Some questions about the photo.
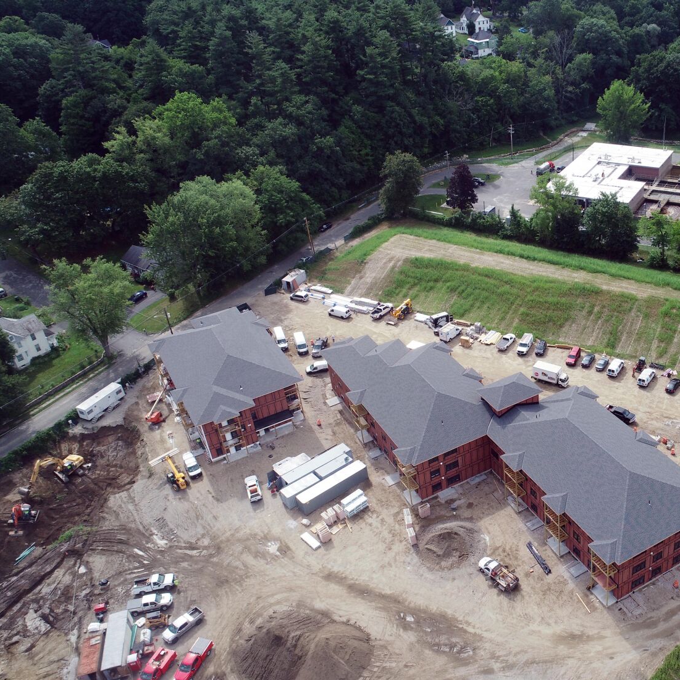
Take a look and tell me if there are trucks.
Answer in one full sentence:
Yes, a truck can be made out from above.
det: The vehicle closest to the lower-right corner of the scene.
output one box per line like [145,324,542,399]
[480,559,523,592]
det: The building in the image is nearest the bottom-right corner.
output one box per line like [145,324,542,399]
[321,335,680,607]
